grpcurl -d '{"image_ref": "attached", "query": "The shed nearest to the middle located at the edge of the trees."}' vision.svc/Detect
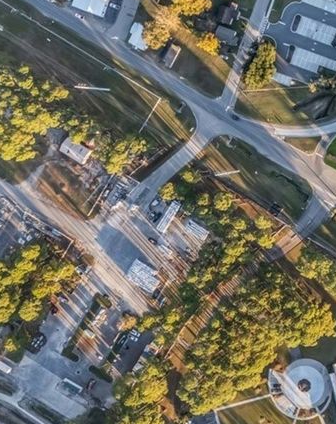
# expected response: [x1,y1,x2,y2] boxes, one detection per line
[156,201,182,233]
